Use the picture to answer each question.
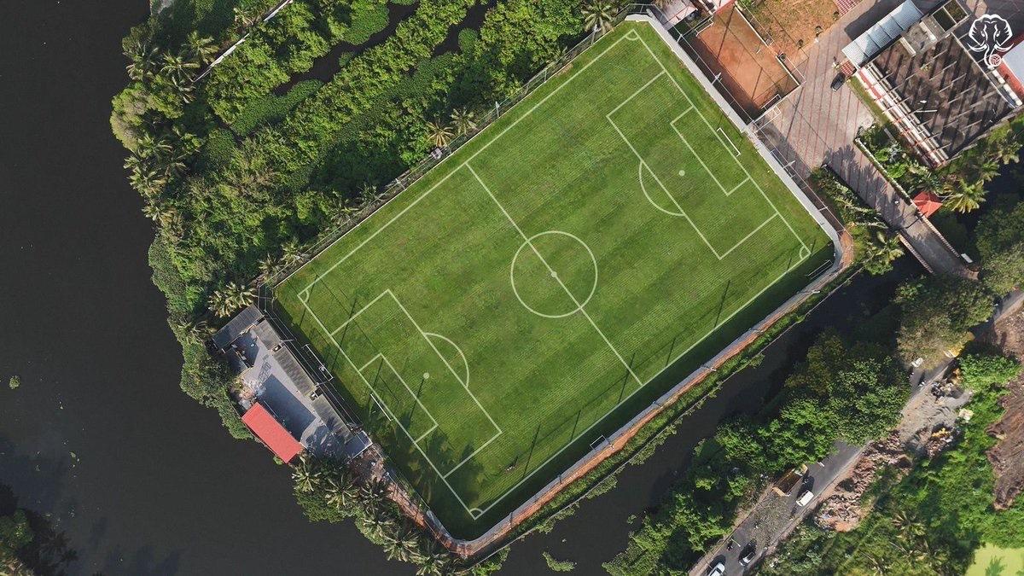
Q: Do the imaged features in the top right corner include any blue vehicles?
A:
No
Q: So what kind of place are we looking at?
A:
sports ground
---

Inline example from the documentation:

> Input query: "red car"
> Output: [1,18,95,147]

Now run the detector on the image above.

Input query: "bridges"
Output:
[898,211,996,300]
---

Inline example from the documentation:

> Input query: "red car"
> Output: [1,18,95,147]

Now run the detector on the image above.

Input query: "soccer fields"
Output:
[271,16,840,541]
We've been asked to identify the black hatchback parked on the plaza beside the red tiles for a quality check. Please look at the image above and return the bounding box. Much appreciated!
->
[832,71,849,90]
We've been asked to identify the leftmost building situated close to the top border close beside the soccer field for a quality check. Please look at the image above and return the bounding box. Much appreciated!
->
[653,0,699,31]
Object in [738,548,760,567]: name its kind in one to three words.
vehicle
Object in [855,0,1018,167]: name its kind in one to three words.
building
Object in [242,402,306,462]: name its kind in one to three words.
building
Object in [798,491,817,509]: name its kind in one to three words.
vehicle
